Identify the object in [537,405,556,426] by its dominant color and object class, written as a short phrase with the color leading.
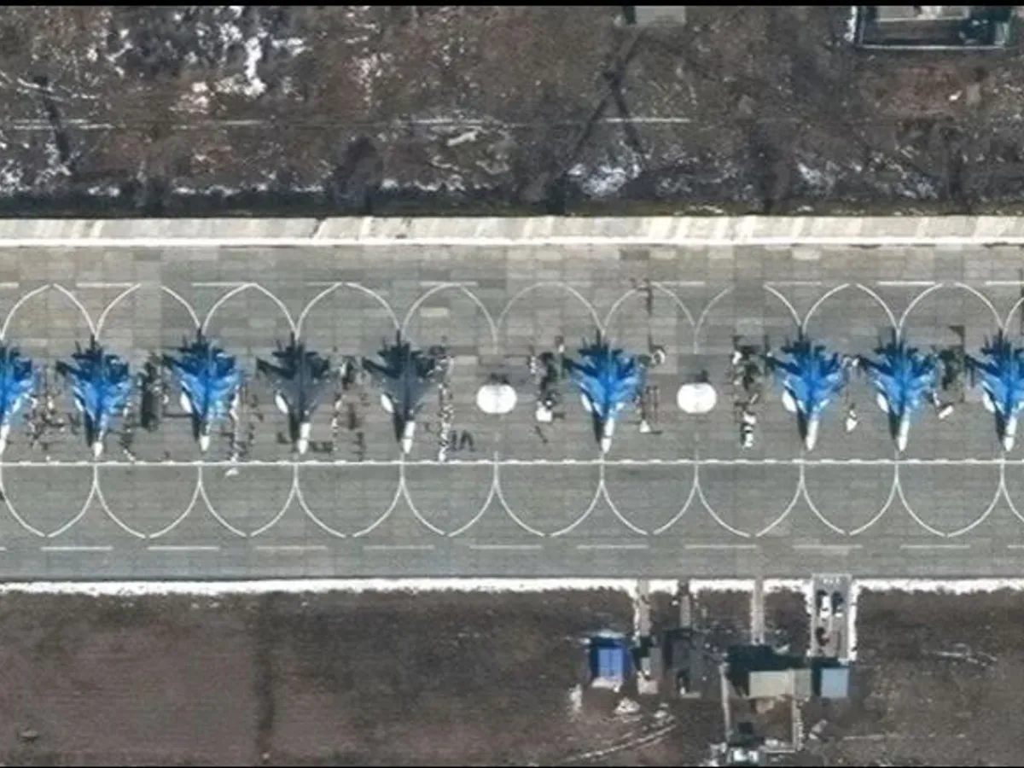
white vehicle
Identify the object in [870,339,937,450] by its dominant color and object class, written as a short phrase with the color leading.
blue airplane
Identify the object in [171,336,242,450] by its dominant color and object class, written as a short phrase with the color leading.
blue airplane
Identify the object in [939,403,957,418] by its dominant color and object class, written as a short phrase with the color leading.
white vehicle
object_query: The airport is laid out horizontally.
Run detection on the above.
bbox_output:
[0,244,1024,584]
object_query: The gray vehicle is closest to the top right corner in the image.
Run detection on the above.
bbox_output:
[994,20,1009,42]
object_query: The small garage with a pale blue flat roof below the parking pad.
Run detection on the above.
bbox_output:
[815,668,847,696]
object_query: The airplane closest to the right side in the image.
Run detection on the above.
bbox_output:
[979,340,1024,451]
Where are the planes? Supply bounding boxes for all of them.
[373,338,443,452]
[979,340,1024,451]
[64,340,135,455]
[0,338,39,453]
[171,336,242,450]
[269,338,339,452]
[870,339,937,450]
[572,339,641,452]
[777,338,845,450]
